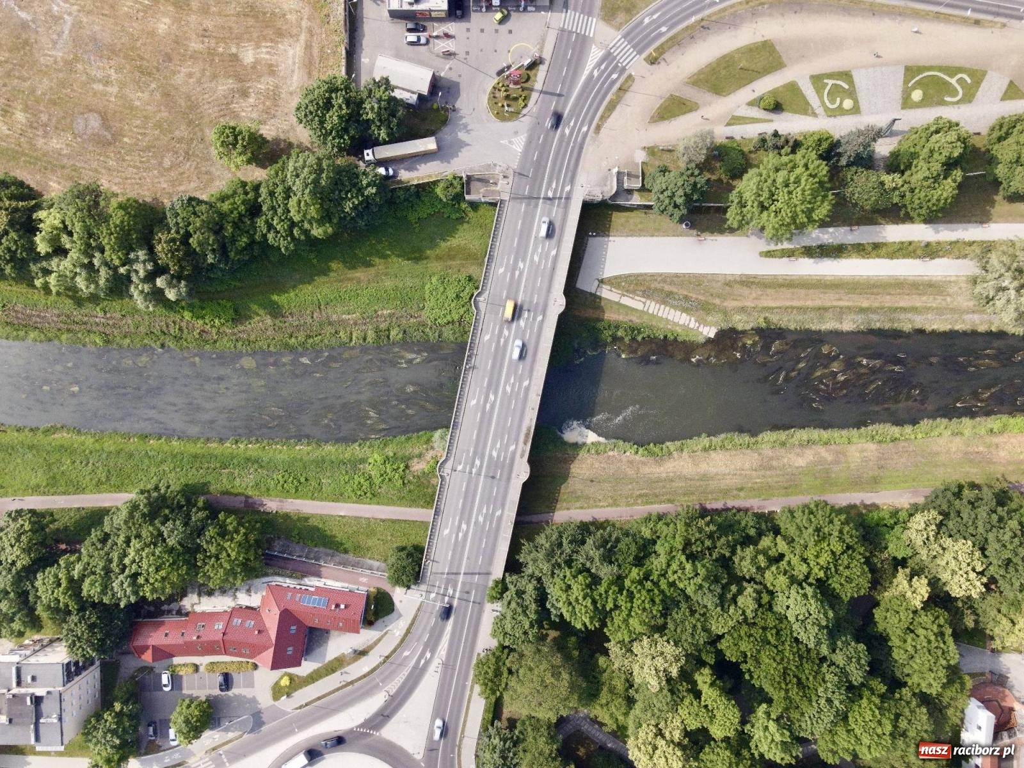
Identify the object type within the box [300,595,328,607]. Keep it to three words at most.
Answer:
solar panel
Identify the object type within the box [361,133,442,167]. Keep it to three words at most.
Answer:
truck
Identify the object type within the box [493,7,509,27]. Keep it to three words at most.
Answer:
car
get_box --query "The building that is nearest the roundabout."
[129,578,369,670]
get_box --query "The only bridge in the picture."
[421,182,580,588]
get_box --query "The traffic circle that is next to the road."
[274,728,426,768]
